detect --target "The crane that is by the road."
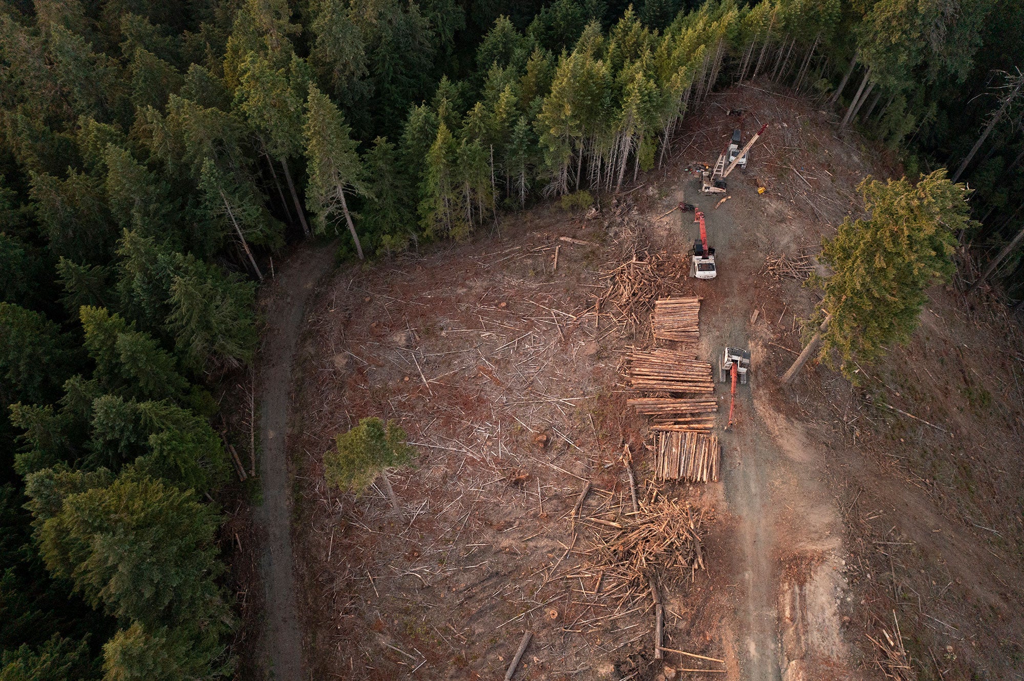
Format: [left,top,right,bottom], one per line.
[697,123,768,194]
